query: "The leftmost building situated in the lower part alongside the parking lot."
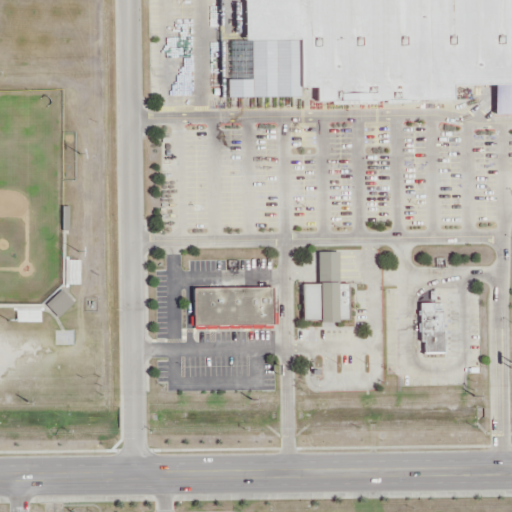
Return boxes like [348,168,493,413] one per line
[191,286,278,332]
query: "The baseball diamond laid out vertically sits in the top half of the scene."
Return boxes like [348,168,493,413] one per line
[0,90,62,303]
